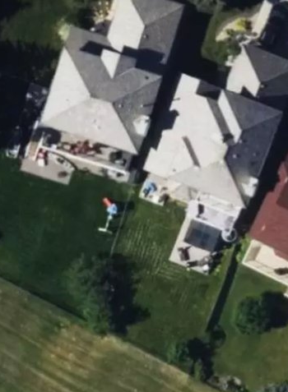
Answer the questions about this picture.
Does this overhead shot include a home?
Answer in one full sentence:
Yes, there's a home here.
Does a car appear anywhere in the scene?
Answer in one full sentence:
Yes, there is a car in the image.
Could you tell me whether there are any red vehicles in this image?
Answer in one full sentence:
No, there appears to be no red vehicle in this shot.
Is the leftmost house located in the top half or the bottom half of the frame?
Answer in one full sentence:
The leftmost house is in the top half of the image.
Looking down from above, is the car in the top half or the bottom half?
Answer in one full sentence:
You can find the car in the top half.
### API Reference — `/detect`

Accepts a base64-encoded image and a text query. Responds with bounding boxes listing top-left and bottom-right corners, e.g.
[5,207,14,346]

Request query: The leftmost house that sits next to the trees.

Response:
[26,0,185,173]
